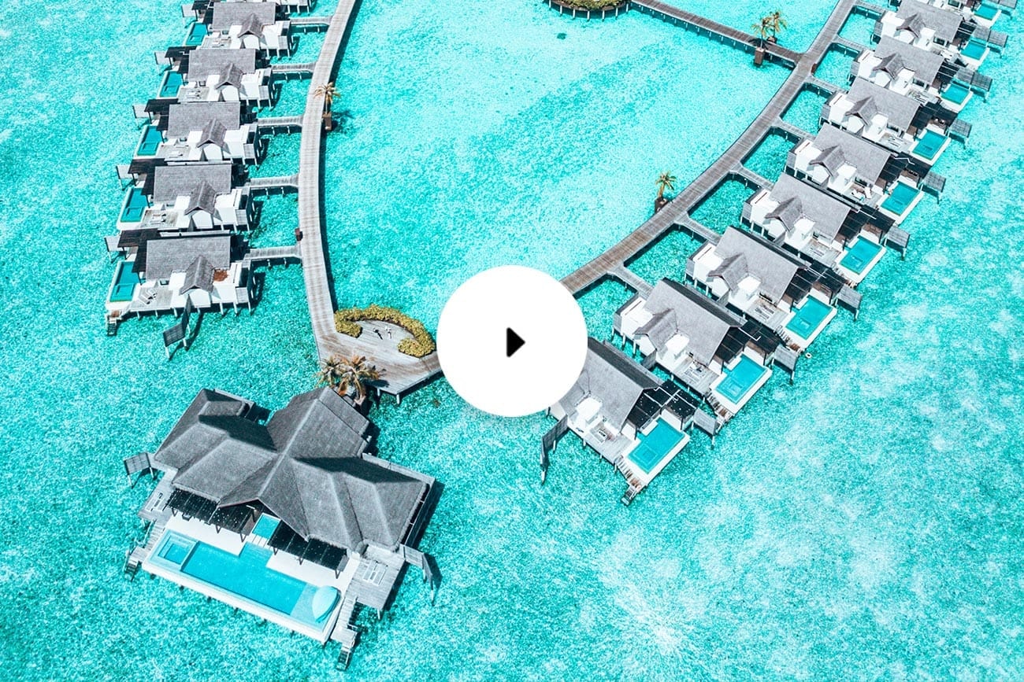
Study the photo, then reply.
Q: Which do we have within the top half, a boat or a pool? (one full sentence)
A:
There is a pool within the top half.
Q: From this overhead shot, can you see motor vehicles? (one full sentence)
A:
No, there's no motor vehicle here.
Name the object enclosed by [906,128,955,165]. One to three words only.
swimming pool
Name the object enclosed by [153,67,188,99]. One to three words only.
swimming pool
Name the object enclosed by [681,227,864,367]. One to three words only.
house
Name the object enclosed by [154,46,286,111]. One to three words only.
house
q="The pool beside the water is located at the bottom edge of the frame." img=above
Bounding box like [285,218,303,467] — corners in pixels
[142,529,352,648]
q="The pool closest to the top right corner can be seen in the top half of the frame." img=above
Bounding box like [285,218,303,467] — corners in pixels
[971,0,1004,25]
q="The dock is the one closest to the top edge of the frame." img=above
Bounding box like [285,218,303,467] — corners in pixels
[624,0,815,73]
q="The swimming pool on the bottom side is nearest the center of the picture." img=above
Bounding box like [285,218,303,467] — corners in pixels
[615,415,697,490]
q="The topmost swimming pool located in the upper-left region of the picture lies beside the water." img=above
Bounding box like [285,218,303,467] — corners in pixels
[181,19,213,48]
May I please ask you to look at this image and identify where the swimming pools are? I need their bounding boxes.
[113,182,154,233]
[130,121,168,164]
[774,293,843,353]
[872,179,928,227]
[142,529,352,648]
[103,254,147,315]
[703,352,779,419]
[955,37,991,69]
[181,19,213,48]
[906,128,955,165]
[615,415,697,490]
[153,67,188,99]
[934,81,976,112]
[971,0,1004,25]
[829,233,892,289]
